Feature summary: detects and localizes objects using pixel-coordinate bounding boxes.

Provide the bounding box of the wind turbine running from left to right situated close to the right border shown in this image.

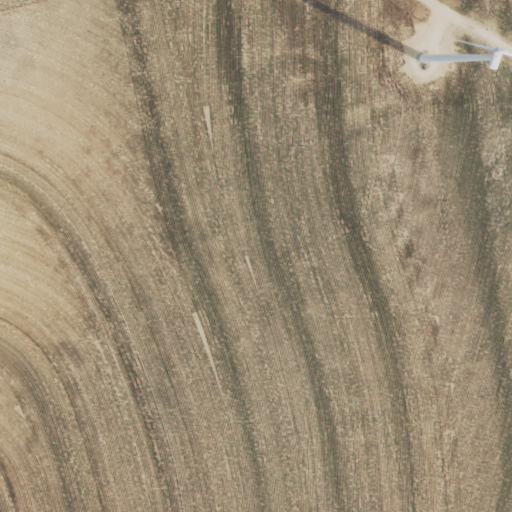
[418,36,512,69]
